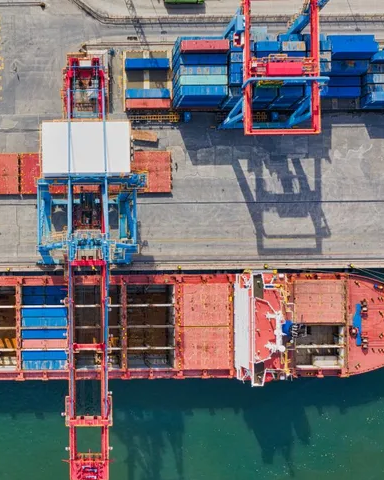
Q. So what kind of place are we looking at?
port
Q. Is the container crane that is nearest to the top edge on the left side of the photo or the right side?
right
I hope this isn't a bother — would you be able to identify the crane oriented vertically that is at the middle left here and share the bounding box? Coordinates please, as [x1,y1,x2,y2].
[32,50,152,480]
